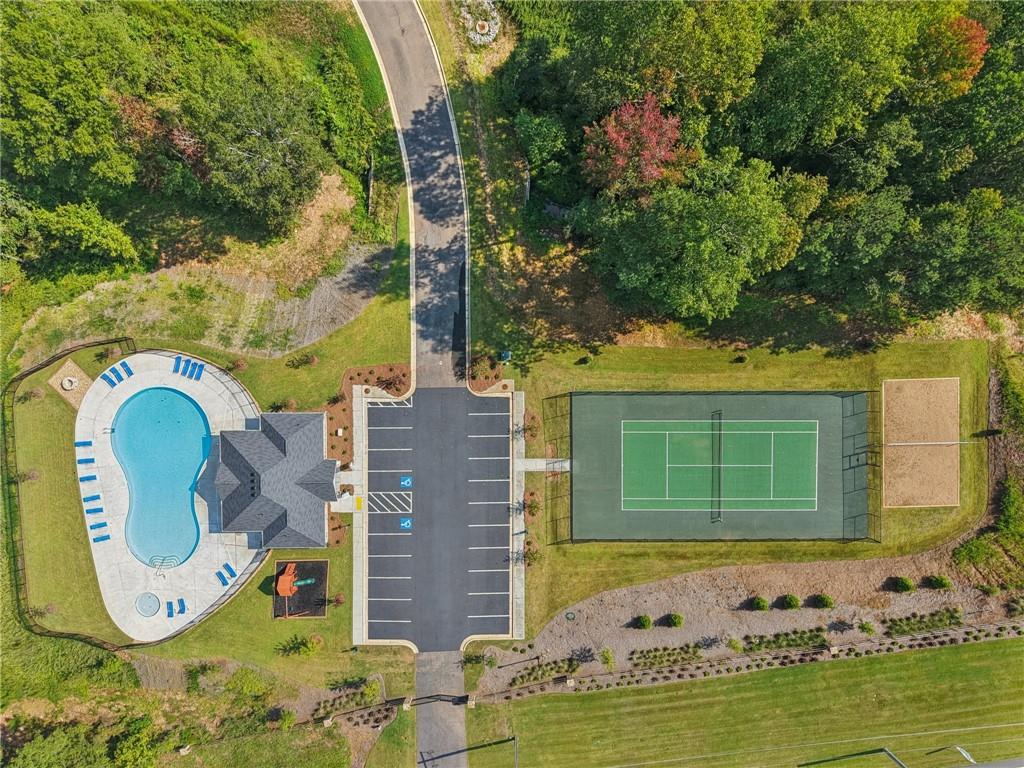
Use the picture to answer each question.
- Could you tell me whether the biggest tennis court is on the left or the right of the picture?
right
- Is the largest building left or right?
left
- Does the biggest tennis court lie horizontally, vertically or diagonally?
horizontally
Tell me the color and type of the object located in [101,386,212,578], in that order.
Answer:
blue swimming pool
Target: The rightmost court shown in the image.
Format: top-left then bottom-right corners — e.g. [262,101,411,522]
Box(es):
[875,377,986,508]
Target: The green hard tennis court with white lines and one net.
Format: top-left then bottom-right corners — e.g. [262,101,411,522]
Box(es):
[571,392,868,542]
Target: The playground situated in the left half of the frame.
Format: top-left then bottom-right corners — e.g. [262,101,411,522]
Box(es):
[272,558,330,619]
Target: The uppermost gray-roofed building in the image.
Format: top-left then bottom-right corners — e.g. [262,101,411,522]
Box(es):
[212,412,343,549]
